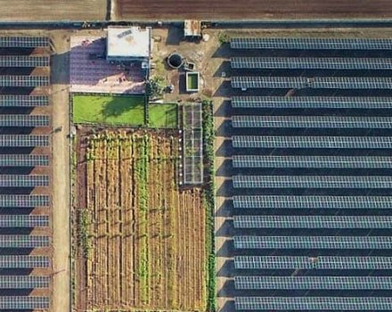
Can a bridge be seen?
No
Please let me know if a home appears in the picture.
Yes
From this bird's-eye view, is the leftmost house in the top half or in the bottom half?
top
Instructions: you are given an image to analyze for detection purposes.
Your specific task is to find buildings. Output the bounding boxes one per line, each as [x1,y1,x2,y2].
[106,27,151,66]
[185,21,203,38]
